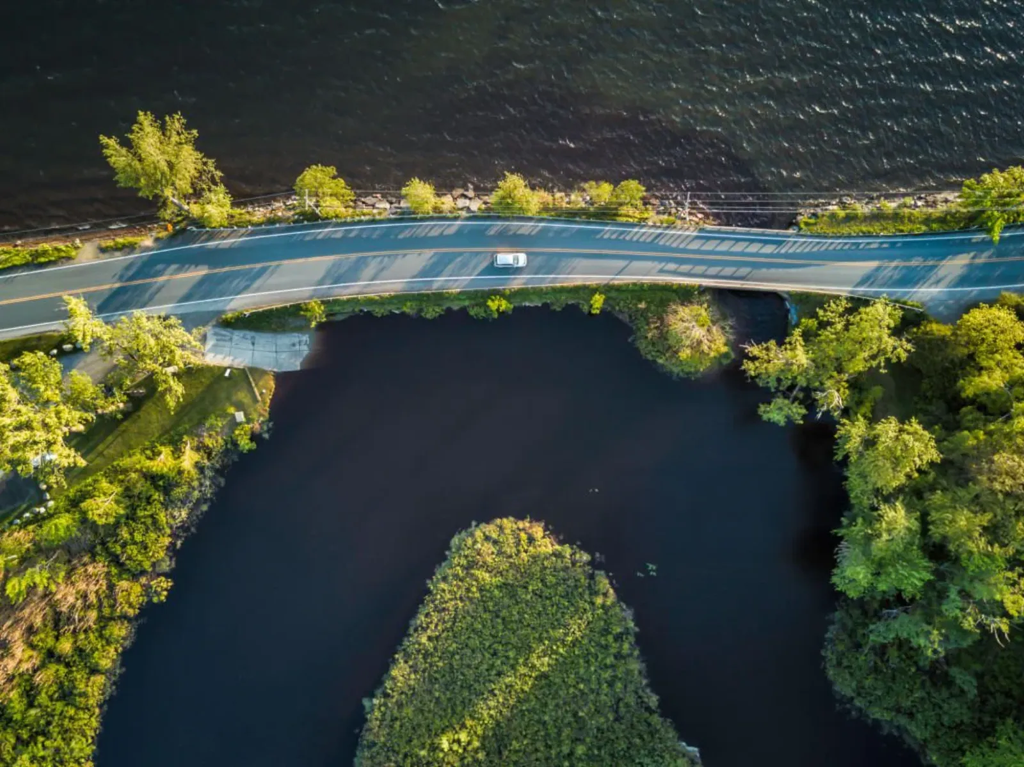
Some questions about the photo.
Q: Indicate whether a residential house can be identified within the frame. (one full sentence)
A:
No, no residential house can be seen from above.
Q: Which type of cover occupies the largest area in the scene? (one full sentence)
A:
What you mostly see from above here is water.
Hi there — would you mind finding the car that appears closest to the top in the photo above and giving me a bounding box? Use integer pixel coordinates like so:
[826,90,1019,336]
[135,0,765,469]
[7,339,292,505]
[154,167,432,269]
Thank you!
[493,251,527,267]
